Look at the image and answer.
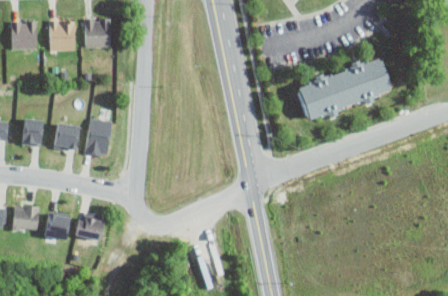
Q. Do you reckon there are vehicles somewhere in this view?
Yes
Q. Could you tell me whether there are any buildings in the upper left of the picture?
Yes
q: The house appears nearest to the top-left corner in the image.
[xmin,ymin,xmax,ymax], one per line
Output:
[11,20,38,50]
